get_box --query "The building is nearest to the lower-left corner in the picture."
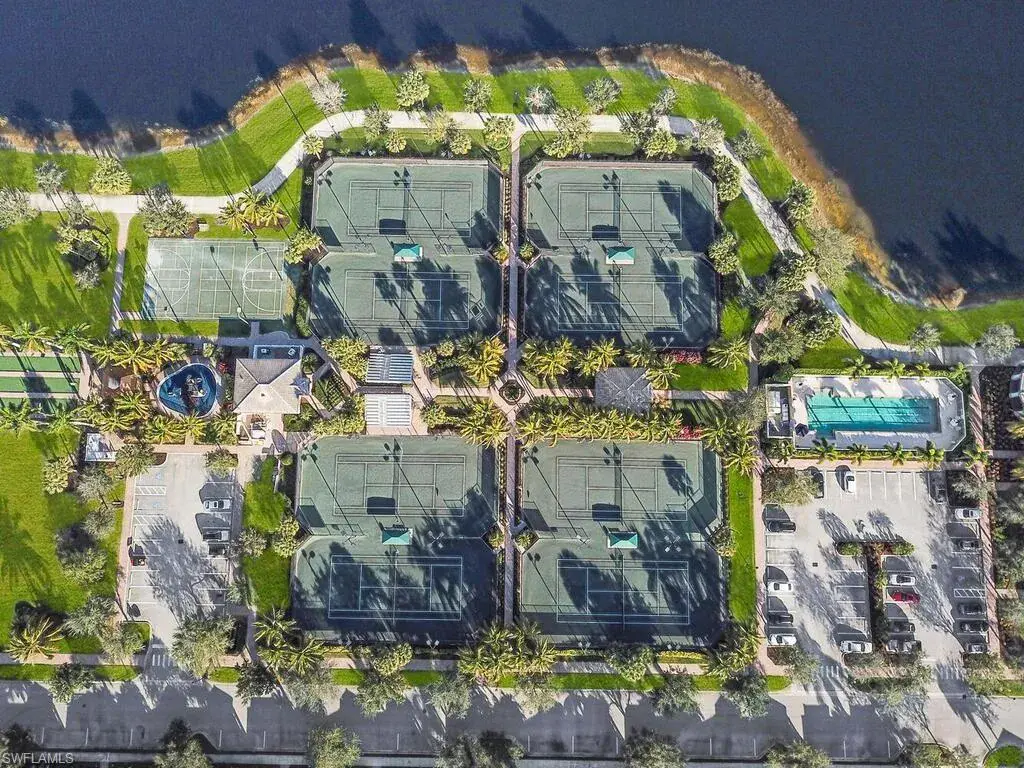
[85,433,124,458]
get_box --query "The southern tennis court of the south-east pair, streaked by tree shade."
[522,535,728,645]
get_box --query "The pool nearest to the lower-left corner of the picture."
[156,361,219,418]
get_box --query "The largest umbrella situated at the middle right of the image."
[794,423,811,440]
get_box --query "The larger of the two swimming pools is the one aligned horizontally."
[792,376,966,449]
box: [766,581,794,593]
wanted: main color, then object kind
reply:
white vehicle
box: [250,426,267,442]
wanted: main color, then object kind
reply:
white umbrella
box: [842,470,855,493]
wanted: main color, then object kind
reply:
white vehicle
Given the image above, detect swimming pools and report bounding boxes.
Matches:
[792,376,966,449]
[156,361,219,418]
